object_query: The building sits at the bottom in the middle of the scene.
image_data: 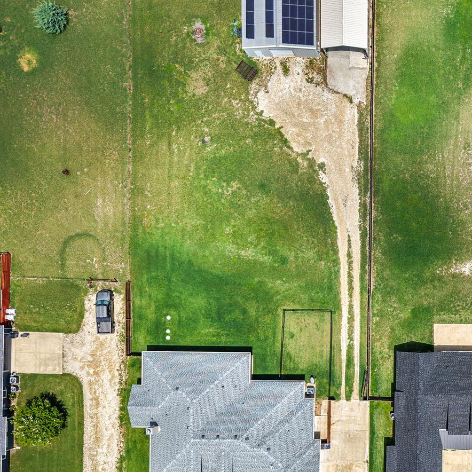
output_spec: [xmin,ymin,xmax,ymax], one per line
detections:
[127,350,320,472]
